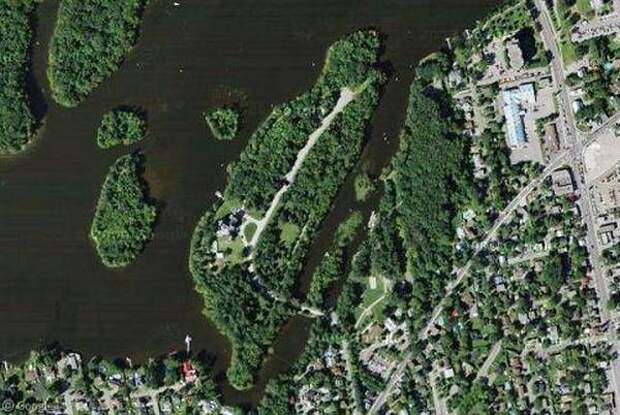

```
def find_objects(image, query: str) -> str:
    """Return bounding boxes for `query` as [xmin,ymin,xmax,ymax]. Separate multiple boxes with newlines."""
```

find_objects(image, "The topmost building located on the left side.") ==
[215,207,243,238]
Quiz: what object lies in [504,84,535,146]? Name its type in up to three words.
building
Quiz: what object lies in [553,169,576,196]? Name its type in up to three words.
building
